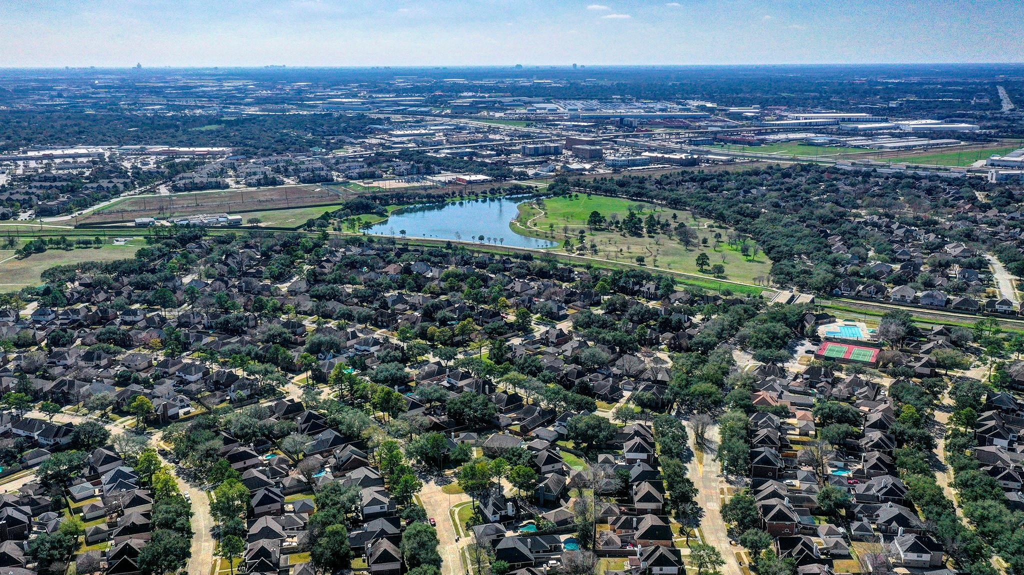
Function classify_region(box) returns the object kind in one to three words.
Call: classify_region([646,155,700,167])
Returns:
building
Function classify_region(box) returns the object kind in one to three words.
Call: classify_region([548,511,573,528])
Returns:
building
